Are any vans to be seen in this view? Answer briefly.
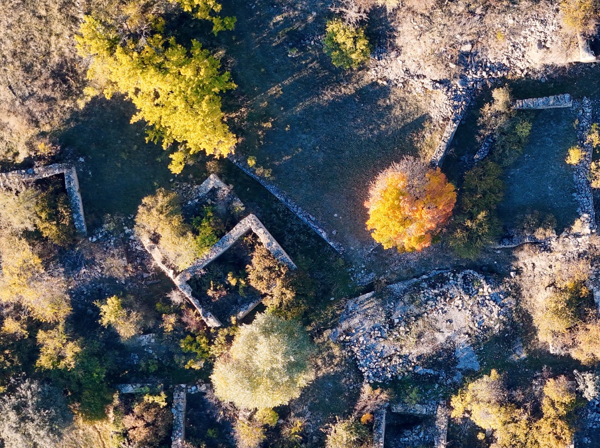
No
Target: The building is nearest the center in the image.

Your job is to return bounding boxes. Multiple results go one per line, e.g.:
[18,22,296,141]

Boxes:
[139,217,303,328]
